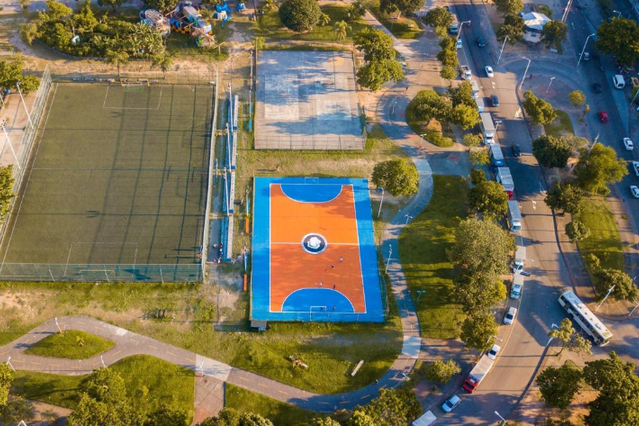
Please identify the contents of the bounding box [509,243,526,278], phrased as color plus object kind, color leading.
white vehicle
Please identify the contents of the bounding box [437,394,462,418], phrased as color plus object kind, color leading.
blue car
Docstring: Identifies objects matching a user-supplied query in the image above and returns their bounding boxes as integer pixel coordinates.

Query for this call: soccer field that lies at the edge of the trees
[0,82,218,281]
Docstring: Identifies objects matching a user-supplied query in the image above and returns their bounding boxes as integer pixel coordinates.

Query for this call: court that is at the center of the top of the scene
[255,50,363,150]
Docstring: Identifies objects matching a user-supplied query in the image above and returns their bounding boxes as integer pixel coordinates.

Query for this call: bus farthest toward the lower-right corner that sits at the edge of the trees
[555,291,611,350]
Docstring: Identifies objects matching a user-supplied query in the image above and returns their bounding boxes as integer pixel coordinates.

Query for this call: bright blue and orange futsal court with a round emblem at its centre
[248,176,385,322]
